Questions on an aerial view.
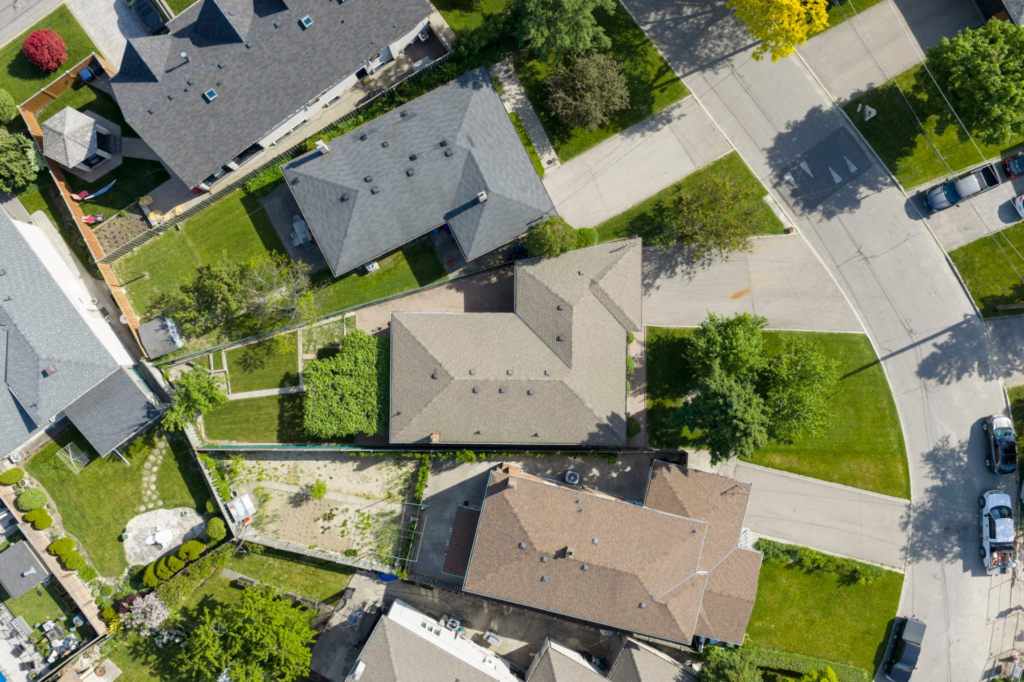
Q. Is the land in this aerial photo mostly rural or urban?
urban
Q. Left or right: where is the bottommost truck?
right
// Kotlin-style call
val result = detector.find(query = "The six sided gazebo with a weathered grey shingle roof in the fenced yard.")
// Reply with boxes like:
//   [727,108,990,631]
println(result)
[41,105,121,173]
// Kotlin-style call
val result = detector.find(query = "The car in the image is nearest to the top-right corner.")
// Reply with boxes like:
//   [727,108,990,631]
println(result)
[997,149,1024,181]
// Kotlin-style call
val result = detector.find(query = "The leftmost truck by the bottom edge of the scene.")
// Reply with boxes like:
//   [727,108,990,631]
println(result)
[872,608,926,682]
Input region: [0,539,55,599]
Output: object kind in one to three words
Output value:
shed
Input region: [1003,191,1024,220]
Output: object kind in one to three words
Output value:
car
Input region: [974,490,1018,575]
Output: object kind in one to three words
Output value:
truck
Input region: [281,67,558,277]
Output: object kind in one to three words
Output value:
house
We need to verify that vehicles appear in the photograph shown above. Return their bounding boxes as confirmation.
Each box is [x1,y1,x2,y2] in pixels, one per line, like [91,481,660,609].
[872,608,926,682]
[997,149,1024,181]
[974,490,1018,575]
[918,161,1004,213]
[978,411,1022,477]
[130,0,179,35]
[1003,191,1024,220]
